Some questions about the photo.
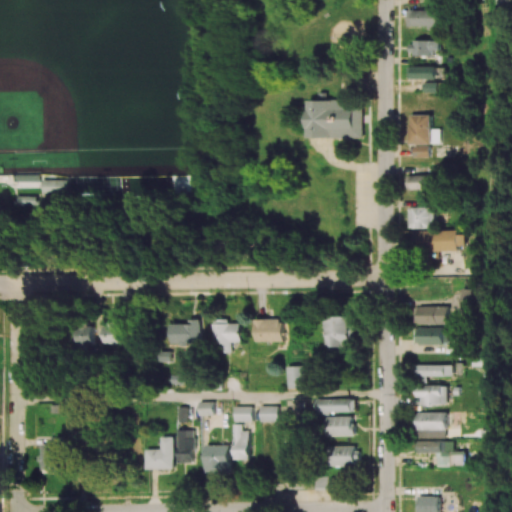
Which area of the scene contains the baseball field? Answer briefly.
top left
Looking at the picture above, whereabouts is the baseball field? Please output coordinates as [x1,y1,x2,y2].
[0,0,192,176]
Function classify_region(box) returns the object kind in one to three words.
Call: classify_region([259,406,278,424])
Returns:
building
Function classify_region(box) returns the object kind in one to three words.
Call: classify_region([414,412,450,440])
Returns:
house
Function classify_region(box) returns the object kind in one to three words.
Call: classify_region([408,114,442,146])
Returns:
house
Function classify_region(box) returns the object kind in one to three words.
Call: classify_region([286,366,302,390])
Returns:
building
